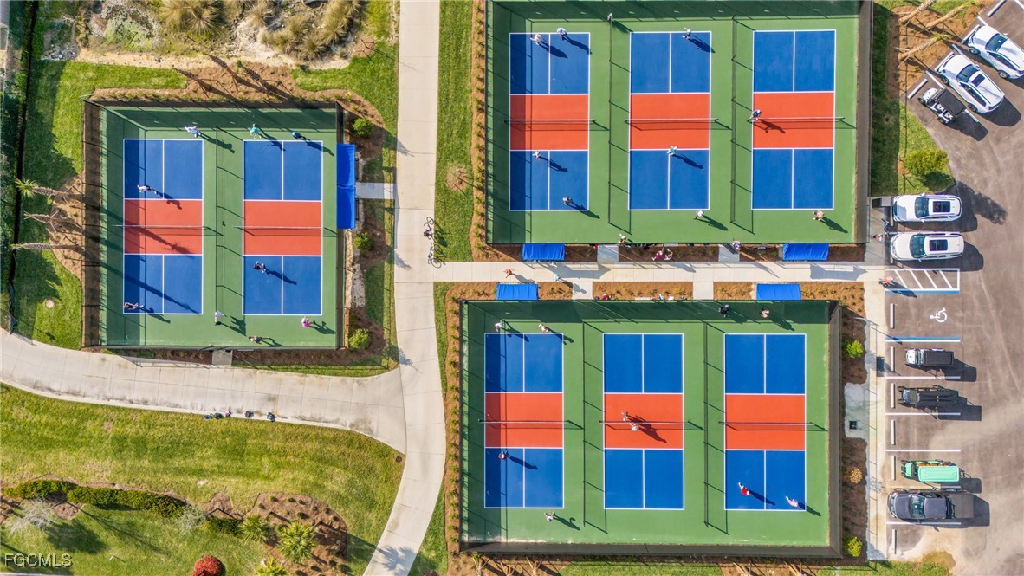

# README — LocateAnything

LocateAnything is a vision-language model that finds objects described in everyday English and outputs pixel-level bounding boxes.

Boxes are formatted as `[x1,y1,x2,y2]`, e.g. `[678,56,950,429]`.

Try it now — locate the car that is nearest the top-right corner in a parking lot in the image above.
[967,22,1024,78]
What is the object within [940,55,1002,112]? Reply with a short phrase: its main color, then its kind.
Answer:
white car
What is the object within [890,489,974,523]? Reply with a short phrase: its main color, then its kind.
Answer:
gray truck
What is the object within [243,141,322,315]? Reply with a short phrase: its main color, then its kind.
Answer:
blue sports court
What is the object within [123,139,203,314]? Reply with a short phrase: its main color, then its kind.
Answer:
blue sports court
